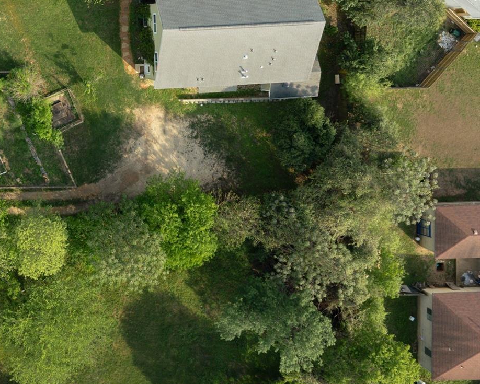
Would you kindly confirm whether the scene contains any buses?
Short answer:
No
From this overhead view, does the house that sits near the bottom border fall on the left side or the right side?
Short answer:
right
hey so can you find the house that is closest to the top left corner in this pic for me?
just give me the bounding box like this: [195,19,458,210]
[131,0,325,100]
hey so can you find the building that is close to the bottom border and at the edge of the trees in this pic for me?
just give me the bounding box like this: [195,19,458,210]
[418,288,480,381]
